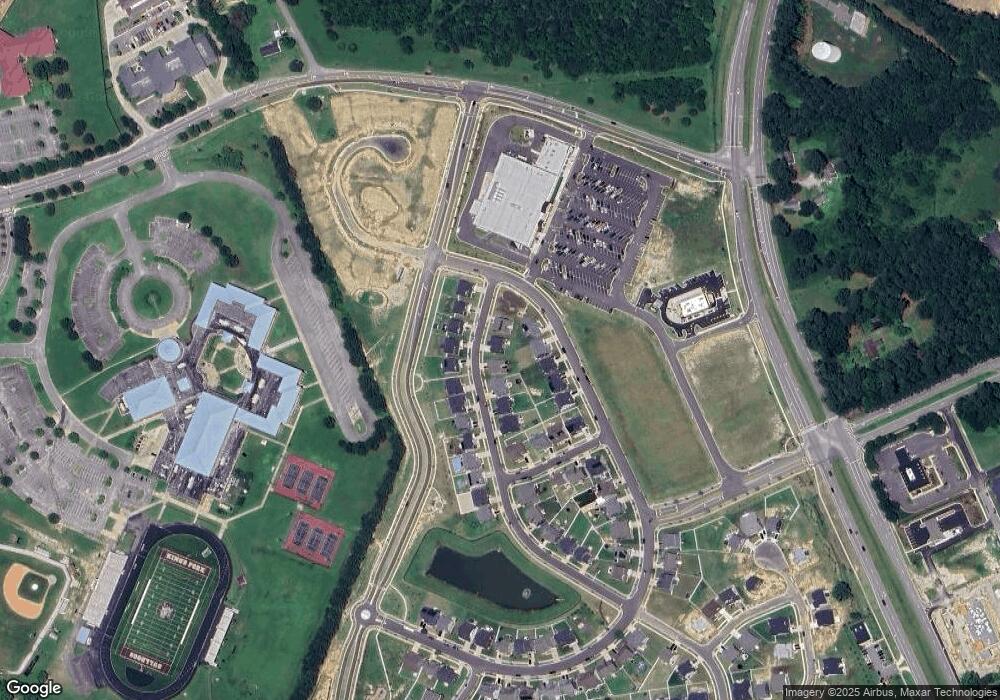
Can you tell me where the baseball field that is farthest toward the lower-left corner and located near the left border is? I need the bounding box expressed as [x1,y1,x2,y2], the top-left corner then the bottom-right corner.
[0,550,63,668]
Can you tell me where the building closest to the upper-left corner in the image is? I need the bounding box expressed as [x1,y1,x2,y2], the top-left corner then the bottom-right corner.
[0,27,58,97]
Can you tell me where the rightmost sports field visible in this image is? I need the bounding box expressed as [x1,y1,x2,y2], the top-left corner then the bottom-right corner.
[111,533,219,689]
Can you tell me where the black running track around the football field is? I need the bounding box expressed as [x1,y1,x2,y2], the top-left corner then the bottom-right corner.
[99,513,229,699]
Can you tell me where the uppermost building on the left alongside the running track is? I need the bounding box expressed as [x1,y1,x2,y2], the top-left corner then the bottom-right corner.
[101,283,305,499]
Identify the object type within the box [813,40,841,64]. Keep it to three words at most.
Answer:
water tank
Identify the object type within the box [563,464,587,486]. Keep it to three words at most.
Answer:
house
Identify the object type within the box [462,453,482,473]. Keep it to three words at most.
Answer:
house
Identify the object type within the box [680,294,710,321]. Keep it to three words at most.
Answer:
building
